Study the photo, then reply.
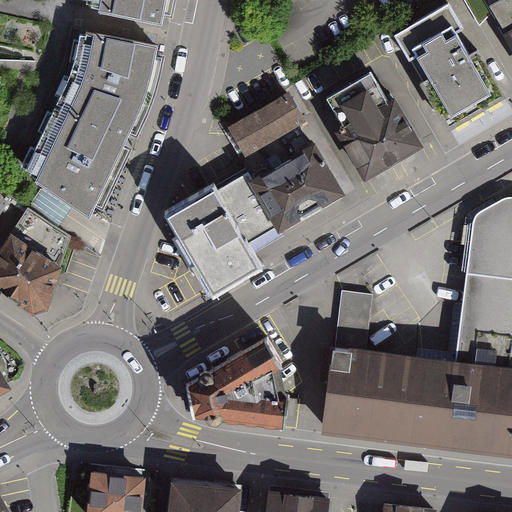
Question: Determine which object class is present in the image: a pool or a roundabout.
roundabout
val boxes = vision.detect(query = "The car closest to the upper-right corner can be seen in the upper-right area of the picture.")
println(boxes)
[487,58,504,81]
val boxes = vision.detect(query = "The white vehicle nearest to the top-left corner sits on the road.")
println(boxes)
[176,47,189,74]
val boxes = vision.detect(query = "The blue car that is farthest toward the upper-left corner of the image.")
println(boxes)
[160,105,172,129]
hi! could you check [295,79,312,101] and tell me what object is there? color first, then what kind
white vehicle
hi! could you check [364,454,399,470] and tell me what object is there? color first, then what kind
white vehicle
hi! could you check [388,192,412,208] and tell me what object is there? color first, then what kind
white car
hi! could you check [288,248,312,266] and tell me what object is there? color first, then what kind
blue car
